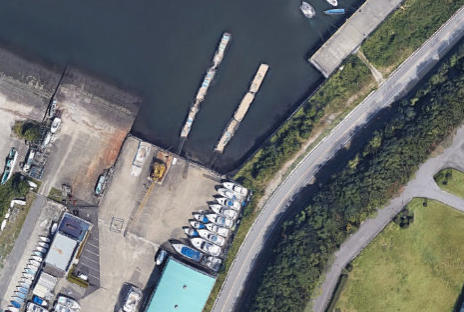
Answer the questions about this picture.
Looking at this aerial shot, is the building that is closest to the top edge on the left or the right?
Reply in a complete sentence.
You can find the building that is closest to the top edge on the left side of the picture.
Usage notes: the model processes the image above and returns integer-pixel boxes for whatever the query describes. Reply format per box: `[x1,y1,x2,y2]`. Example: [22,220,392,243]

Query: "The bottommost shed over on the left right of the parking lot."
[145,256,217,312]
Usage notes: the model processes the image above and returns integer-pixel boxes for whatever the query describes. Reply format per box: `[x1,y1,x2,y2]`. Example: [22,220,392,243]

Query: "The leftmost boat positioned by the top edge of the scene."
[302,2,316,20]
